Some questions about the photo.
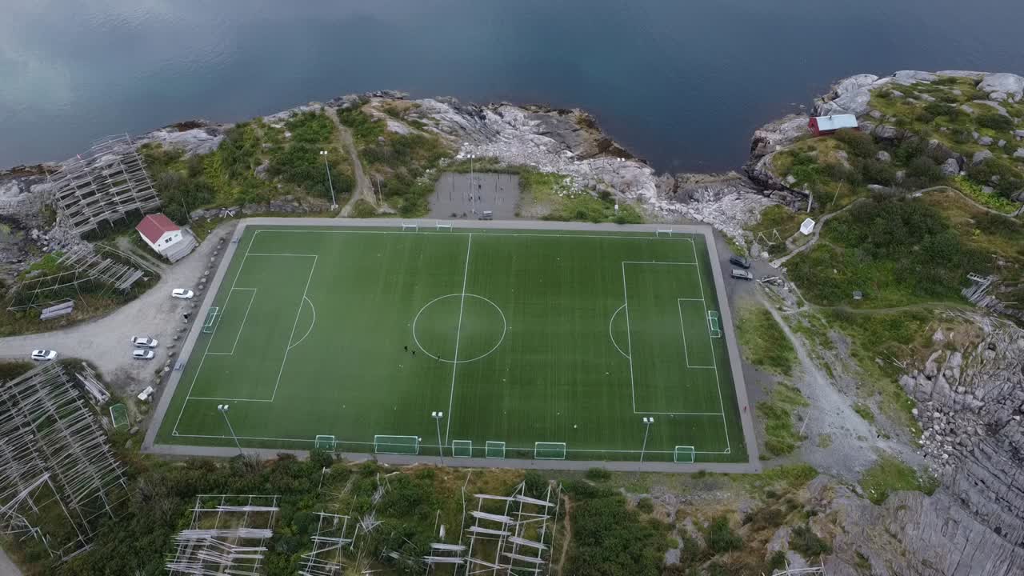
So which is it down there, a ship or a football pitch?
football pitch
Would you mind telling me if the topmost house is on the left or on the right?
right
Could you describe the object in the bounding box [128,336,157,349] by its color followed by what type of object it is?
white vehicle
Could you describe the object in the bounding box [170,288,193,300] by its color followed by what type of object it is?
white vehicle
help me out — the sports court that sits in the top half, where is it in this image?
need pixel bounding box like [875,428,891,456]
[429,173,522,221]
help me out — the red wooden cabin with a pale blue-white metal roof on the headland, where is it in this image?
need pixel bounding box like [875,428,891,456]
[809,112,857,137]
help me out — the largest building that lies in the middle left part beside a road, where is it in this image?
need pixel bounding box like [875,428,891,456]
[136,214,198,264]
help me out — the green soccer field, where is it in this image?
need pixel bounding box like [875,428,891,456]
[139,217,760,474]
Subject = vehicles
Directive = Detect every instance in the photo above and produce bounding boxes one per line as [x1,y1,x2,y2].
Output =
[730,254,751,267]
[170,288,193,300]
[732,268,753,280]
[128,336,157,349]
[130,348,154,360]
[29,350,55,361]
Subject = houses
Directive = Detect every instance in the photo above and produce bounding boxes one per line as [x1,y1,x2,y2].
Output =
[136,214,198,264]
[809,112,857,137]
